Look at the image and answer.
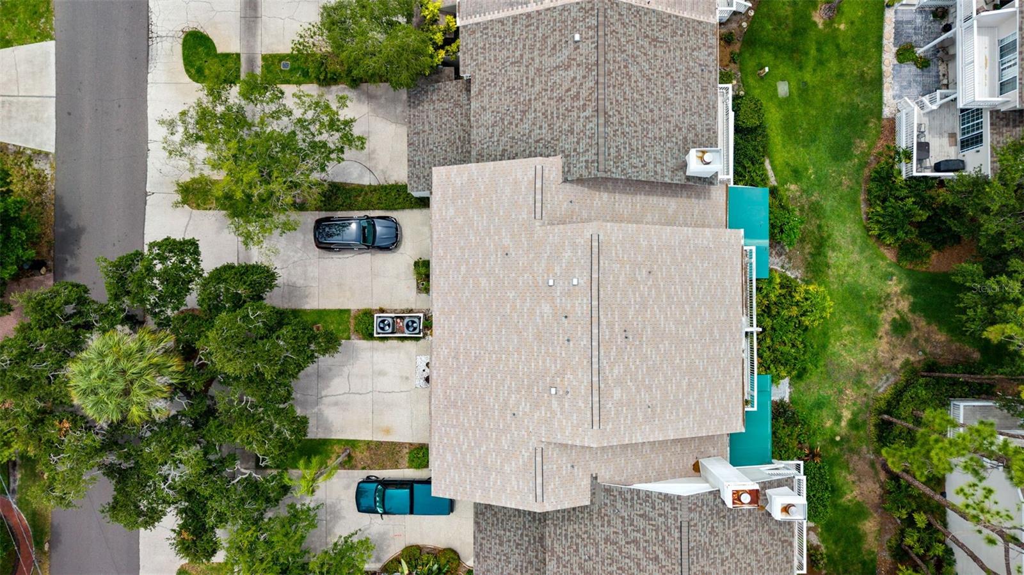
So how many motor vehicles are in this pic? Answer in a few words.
2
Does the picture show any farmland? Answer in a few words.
No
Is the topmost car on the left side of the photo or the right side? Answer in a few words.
left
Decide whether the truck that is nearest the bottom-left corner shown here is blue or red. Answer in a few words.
blue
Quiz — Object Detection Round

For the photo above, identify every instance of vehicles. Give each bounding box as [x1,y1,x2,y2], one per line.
[355,476,455,520]
[315,214,401,255]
